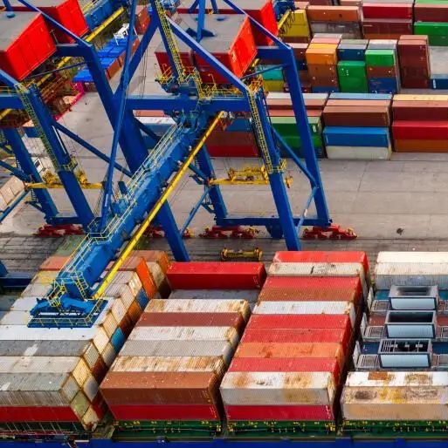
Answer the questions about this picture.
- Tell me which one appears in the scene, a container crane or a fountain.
container crane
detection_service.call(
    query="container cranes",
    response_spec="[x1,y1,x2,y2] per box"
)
[14,0,353,340]
[0,0,194,256]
